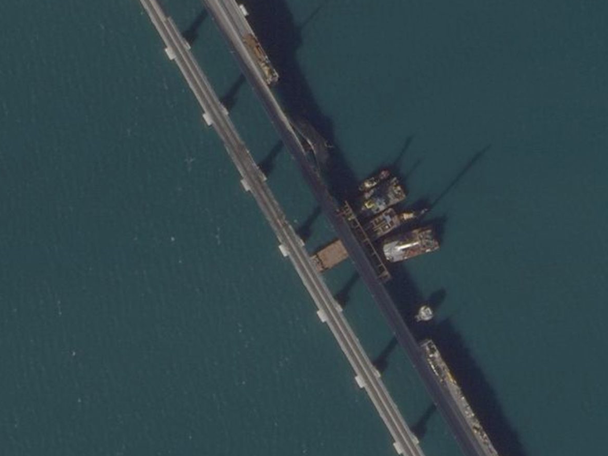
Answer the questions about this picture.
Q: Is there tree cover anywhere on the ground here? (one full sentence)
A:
No, no tree cover is visible.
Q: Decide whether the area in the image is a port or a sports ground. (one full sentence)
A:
The area seen from above is a port.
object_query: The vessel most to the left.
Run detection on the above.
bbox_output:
[311,239,348,272]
